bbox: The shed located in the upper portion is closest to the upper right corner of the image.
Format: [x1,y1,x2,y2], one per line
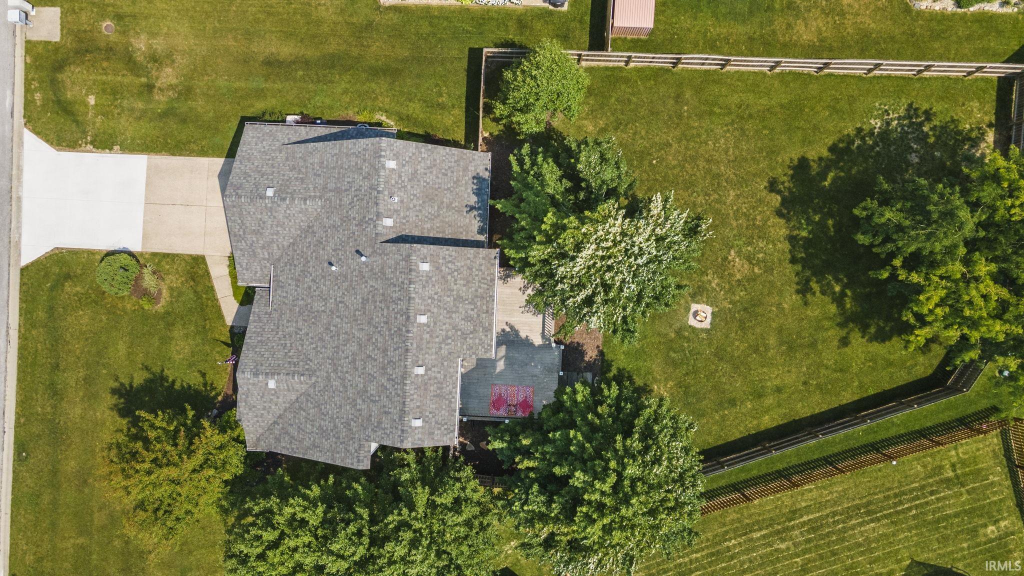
[611,0,656,38]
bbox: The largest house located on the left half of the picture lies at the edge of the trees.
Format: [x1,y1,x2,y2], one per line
[222,122,500,470]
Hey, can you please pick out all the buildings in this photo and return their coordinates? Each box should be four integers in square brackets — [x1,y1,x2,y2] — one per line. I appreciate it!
[611,0,656,38]
[222,122,500,470]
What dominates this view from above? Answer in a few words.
grass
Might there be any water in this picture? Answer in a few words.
No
